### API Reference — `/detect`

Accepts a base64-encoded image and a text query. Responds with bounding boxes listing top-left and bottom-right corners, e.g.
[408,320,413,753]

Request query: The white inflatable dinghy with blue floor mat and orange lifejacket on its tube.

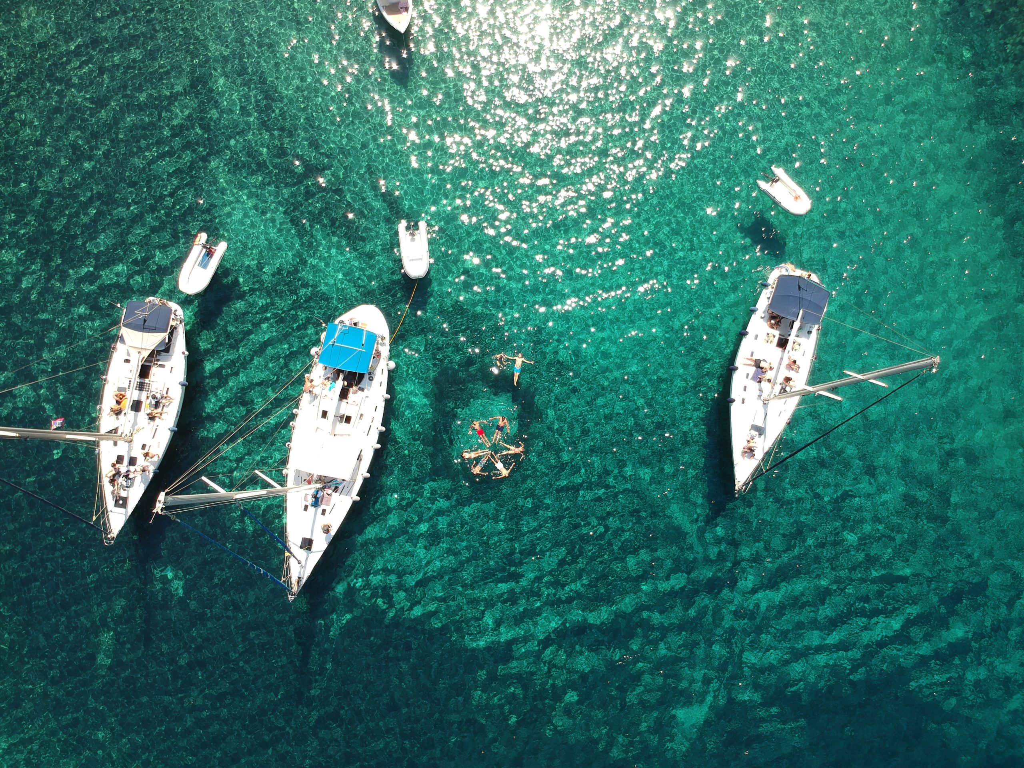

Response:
[179,231,227,296]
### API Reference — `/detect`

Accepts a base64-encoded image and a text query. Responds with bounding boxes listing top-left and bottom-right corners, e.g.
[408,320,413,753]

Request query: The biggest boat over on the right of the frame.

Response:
[729,260,947,497]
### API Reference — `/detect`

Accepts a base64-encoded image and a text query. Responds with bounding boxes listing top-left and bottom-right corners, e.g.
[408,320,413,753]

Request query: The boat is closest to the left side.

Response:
[0,297,191,545]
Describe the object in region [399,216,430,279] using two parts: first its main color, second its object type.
white boat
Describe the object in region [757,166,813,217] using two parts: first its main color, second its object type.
white boat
